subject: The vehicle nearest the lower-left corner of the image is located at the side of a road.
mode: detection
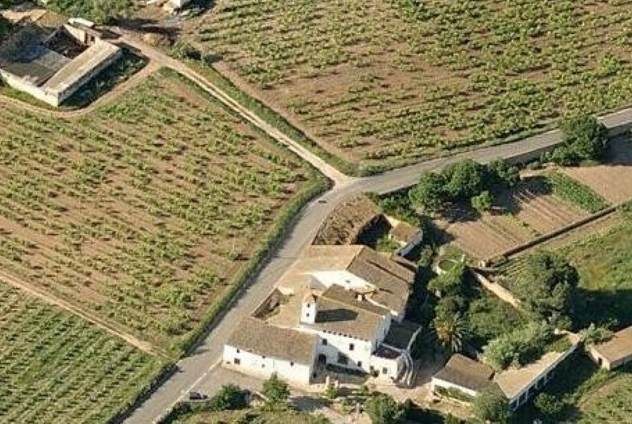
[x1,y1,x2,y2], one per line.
[187,389,210,401]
